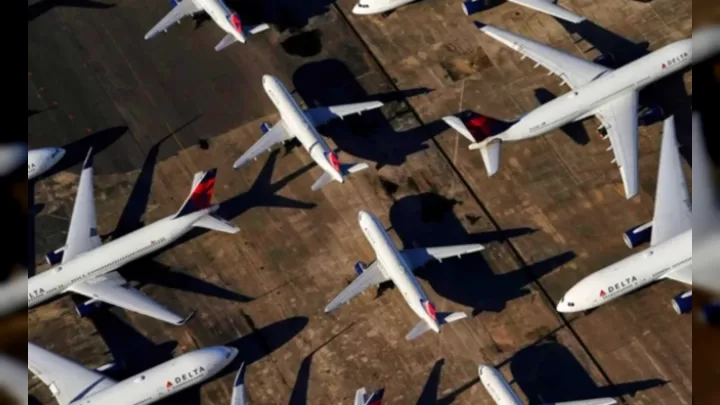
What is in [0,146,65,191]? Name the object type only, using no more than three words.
airplane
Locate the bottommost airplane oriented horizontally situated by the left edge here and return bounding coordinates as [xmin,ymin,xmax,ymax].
[0,322,238,405]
